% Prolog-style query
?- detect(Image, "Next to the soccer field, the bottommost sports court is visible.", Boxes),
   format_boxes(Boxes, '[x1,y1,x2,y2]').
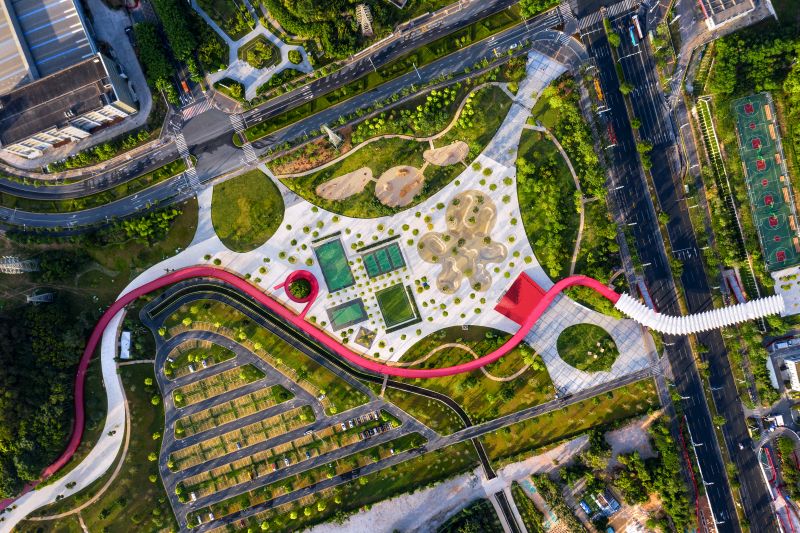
[326,298,369,331]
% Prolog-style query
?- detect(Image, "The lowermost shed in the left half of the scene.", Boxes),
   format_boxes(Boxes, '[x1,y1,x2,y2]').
[120,331,134,359]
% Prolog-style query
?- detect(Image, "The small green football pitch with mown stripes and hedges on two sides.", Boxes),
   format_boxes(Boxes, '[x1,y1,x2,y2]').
[375,282,417,330]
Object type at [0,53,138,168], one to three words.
building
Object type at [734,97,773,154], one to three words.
basketball court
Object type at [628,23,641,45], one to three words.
vehicle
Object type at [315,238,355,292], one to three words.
sports court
